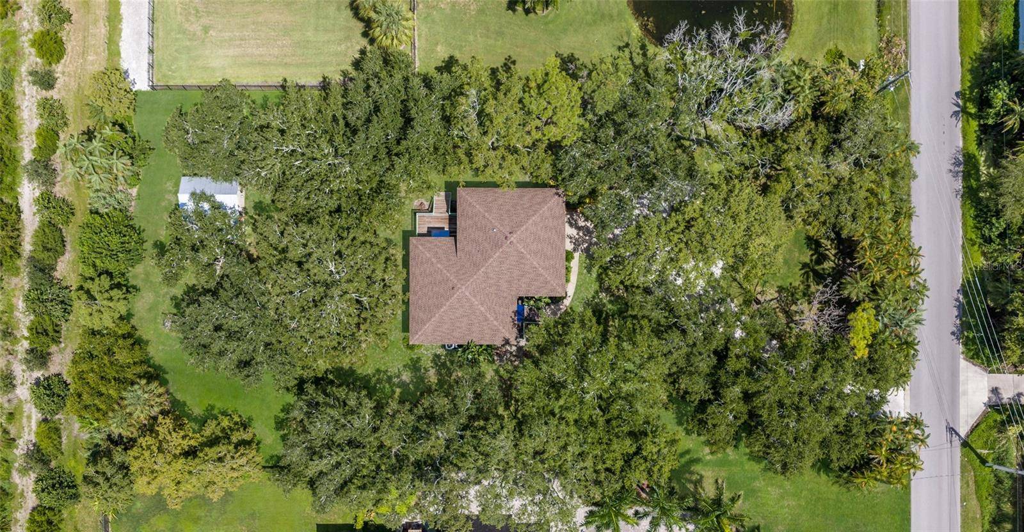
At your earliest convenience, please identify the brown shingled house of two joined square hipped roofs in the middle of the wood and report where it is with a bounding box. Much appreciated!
[409,187,566,346]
